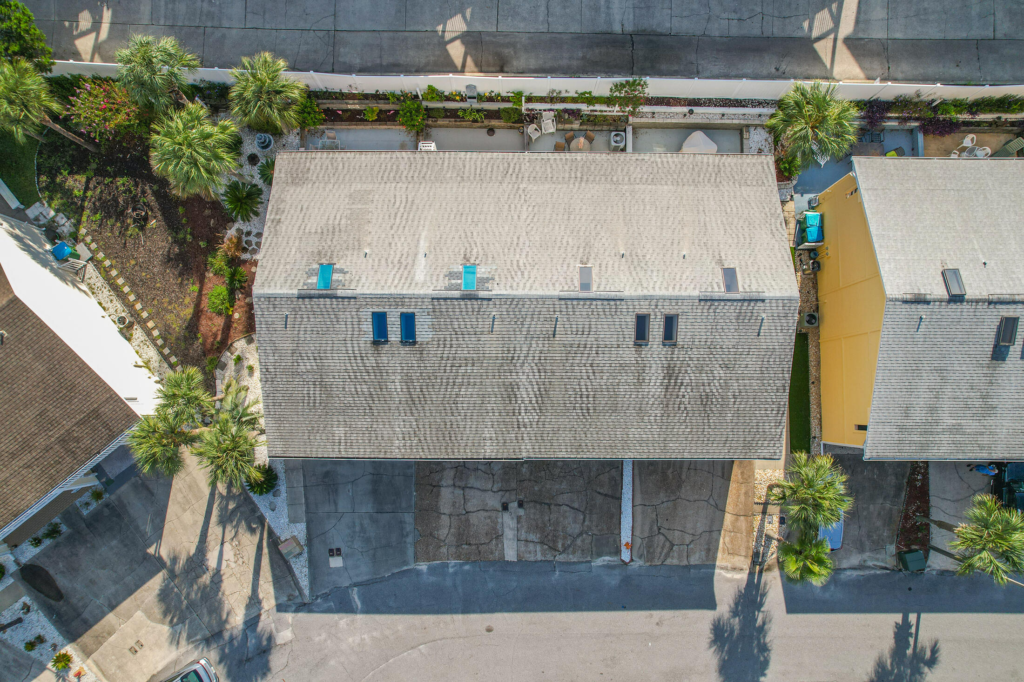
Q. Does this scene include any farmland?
No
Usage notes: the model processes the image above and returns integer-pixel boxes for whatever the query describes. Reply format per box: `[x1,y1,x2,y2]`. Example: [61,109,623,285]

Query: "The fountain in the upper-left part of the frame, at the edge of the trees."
[253,129,273,149]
